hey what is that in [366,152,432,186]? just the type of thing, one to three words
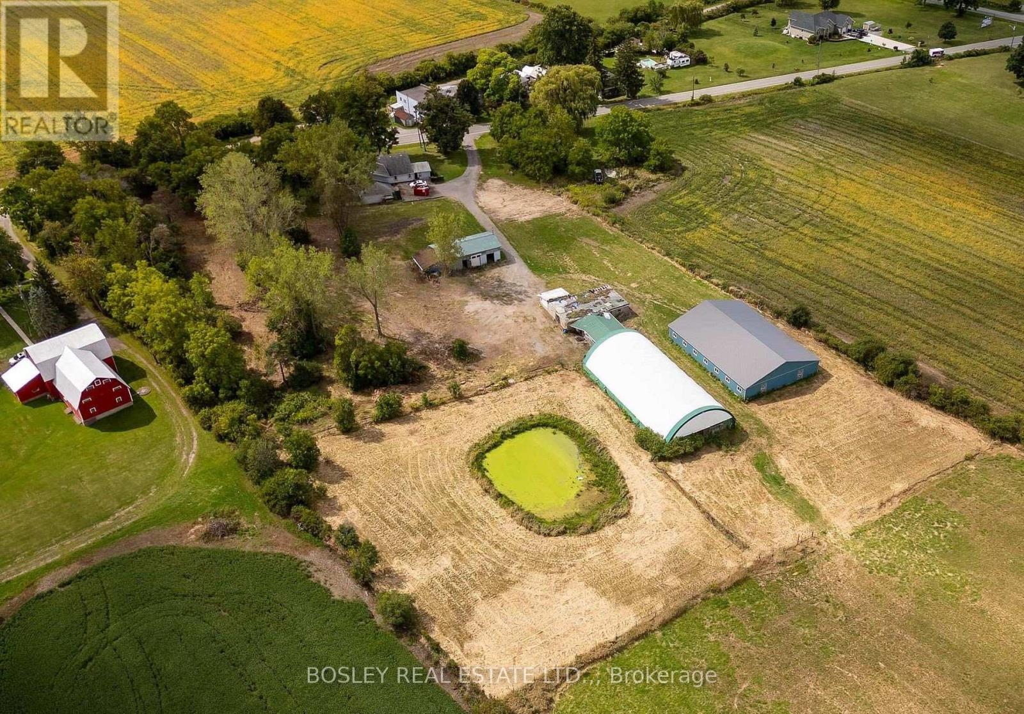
house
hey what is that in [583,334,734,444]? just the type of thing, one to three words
barn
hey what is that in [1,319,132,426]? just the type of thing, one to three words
barn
